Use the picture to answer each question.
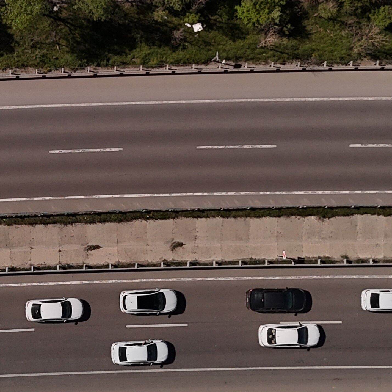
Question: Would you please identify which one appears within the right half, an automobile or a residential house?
automobile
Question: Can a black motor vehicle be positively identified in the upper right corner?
No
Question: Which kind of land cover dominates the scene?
paved ground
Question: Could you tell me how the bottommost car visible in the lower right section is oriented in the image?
from left to right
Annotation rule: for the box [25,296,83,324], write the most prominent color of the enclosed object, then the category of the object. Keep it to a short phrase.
white car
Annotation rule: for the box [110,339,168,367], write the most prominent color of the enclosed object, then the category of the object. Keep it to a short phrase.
white car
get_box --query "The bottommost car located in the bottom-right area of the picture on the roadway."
[258,322,319,351]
